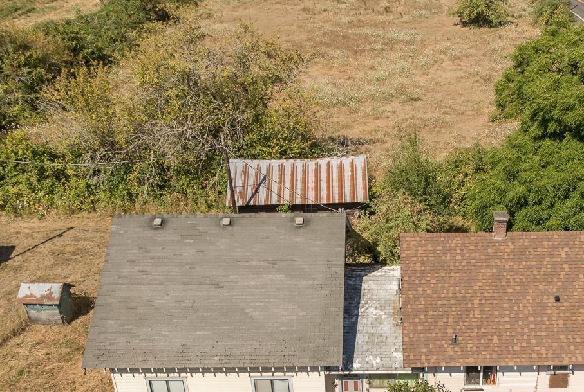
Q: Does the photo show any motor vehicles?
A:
No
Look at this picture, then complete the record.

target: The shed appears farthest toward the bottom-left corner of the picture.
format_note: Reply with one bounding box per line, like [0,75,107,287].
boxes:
[15,281,74,323]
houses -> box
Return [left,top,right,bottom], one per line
[400,210,584,392]
[83,207,356,392]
